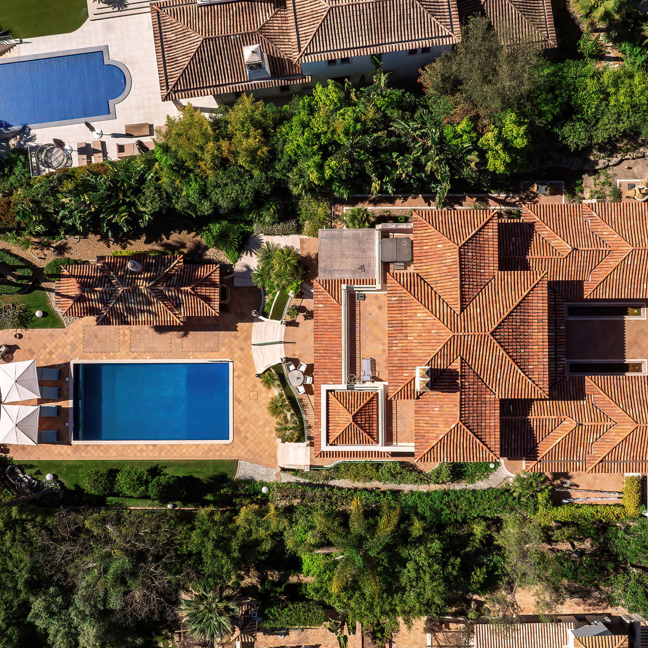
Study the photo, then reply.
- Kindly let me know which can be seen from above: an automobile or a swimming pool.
swimming pool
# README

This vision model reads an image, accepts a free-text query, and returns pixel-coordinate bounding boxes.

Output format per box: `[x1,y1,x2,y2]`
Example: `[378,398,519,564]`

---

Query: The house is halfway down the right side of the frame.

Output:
[313,200,648,519]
